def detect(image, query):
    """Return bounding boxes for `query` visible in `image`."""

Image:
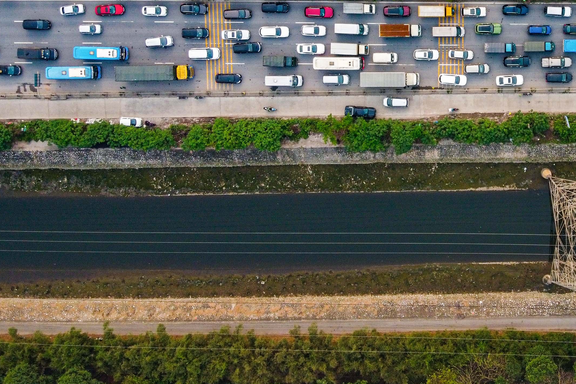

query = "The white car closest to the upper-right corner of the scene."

[543,5,572,18]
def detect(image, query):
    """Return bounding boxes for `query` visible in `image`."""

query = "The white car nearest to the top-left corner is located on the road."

[61,3,86,16]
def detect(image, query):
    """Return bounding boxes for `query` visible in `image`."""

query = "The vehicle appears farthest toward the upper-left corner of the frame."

[23,18,52,31]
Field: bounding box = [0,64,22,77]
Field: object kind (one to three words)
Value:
vehicle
